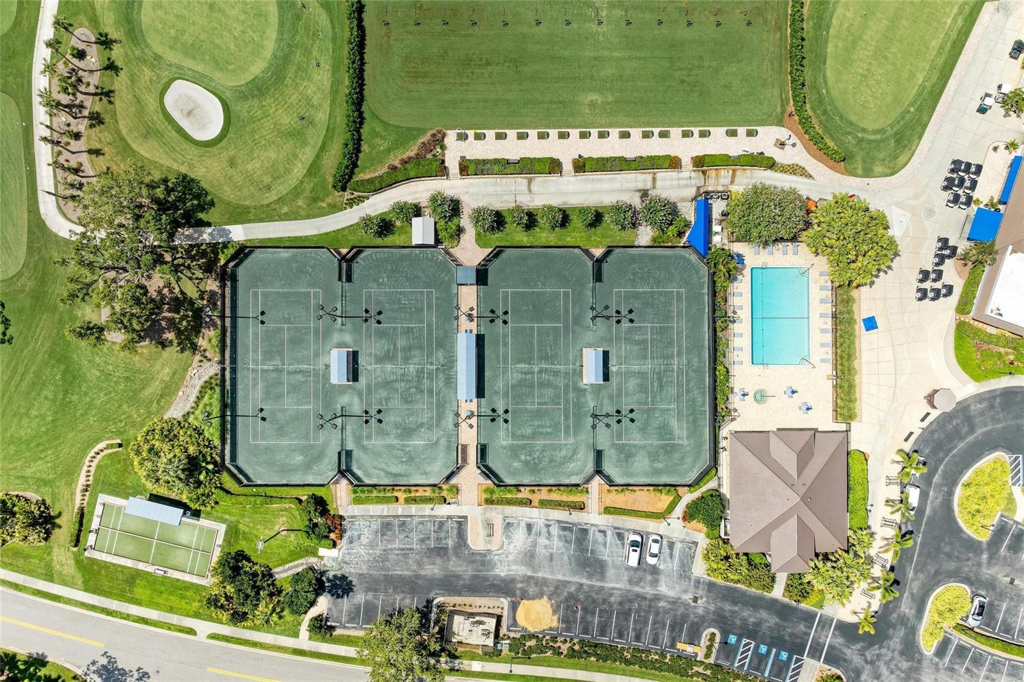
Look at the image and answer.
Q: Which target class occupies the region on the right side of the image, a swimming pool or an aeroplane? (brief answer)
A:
swimming pool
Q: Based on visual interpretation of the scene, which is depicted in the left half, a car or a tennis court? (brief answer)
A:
tennis court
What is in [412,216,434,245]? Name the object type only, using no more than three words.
shed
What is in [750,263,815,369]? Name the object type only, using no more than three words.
swimming pool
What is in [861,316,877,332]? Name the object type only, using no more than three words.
umbrella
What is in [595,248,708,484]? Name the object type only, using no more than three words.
tennis court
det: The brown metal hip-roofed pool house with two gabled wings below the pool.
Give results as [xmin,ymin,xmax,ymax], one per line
[727,429,848,572]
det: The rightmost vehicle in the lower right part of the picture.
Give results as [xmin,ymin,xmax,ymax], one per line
[965,594,985,627]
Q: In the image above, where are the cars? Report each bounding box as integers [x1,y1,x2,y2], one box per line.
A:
[965,594,985,627]
[625,533,642,567]
[645,533,661,565]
